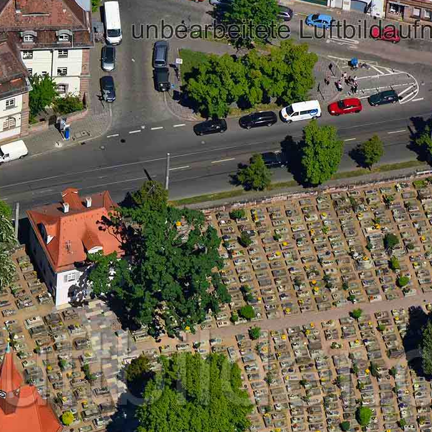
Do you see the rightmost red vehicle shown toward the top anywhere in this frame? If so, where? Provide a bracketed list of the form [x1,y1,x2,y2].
[369,26,402,44]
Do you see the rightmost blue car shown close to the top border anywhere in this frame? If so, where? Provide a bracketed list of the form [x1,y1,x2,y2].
[303,13,339,31]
